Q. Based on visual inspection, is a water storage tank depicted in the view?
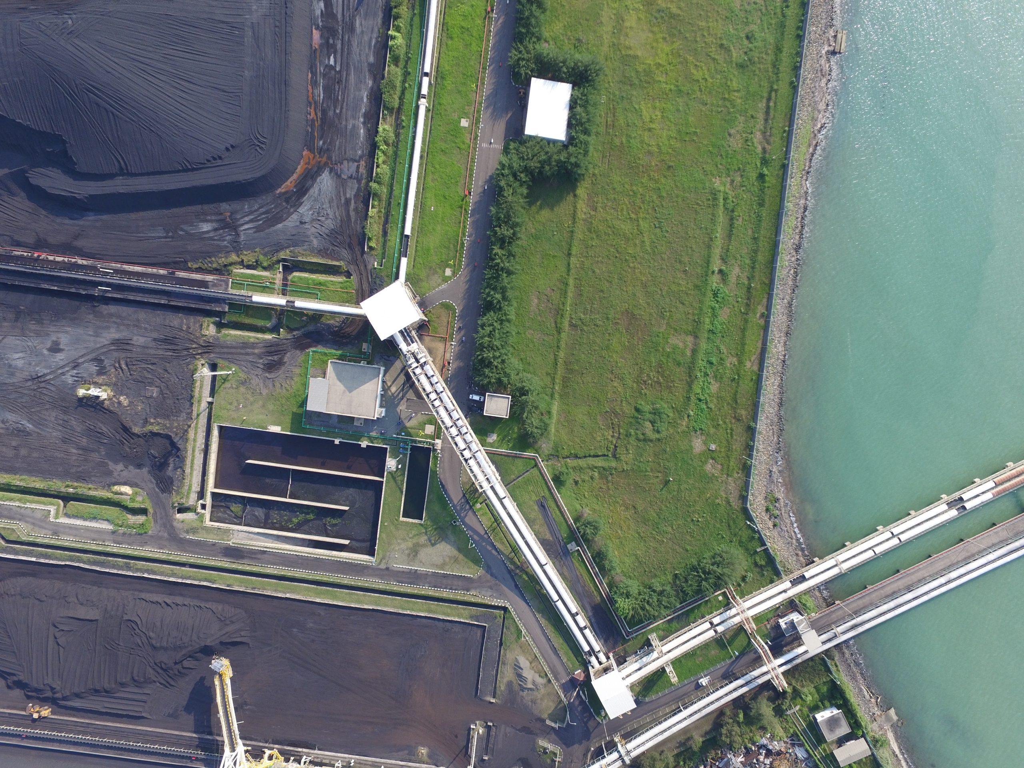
Yes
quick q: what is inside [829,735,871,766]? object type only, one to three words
shed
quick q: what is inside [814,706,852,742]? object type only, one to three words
shed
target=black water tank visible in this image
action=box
[399,444,434,524]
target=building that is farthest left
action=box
[307,360,387,419]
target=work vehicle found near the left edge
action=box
[30,701,53,714]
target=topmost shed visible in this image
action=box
[525,78,572,143]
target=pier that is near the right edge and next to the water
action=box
[808,508,1024,636]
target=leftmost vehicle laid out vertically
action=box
[208,651,274,768]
